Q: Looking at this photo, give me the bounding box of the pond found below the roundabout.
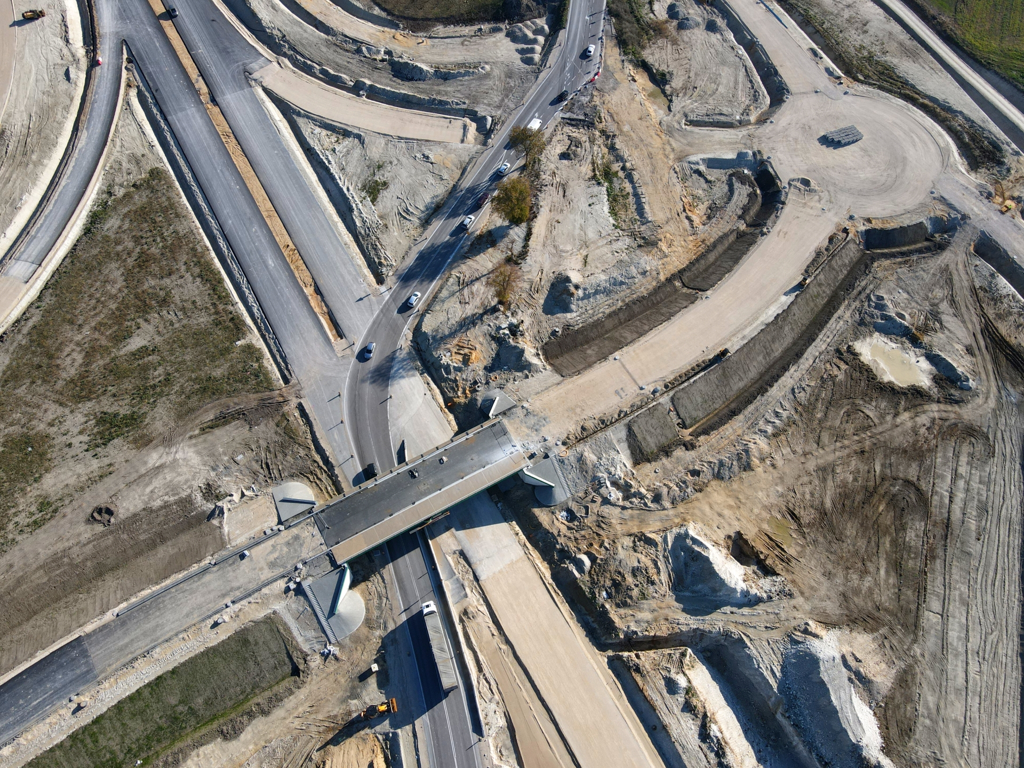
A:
[869,336,933,388]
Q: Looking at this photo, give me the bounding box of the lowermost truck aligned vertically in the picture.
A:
[422,604,456,698]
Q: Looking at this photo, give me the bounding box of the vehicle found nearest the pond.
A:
[798,270,813,288]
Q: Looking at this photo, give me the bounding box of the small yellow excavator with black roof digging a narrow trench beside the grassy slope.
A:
[711,346,733,362]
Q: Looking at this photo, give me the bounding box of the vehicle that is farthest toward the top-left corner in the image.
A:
[23,6,46,21]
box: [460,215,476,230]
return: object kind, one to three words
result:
car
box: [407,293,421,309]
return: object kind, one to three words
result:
car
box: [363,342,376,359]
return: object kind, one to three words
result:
vehicle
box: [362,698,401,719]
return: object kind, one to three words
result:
work vehicle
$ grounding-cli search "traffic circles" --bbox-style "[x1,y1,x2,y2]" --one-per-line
[755,83,955,220]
